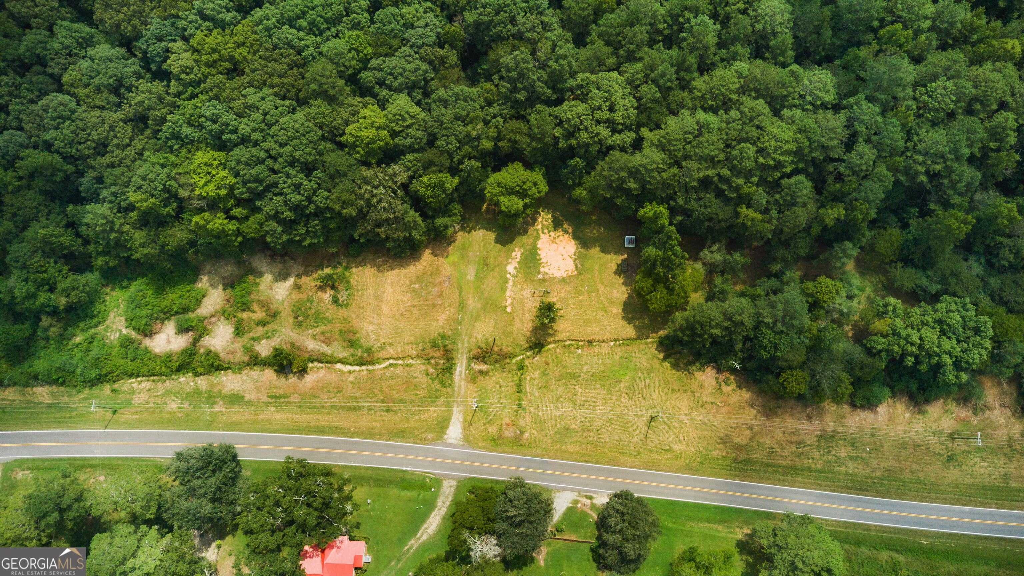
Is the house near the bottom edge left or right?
left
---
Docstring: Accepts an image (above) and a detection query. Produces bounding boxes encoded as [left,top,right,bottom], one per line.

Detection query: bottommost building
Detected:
[298,531,373,576]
